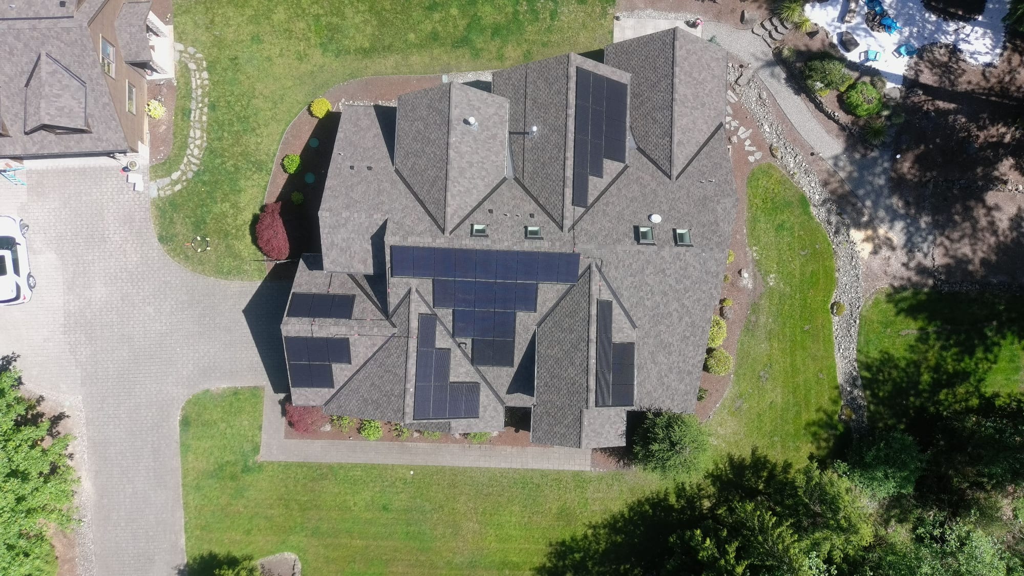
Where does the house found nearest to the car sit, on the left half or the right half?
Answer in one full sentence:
The house found nearest to the car appears in the left half of the scene.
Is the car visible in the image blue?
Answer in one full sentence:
No, the color of the car is white.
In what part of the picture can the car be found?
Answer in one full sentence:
The car appears toward the left of the photo.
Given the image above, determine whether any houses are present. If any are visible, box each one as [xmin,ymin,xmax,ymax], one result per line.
[0,0,175,160]
[280,27,736,449]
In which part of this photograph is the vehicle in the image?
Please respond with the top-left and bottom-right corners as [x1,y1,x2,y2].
[0,216,40,305]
